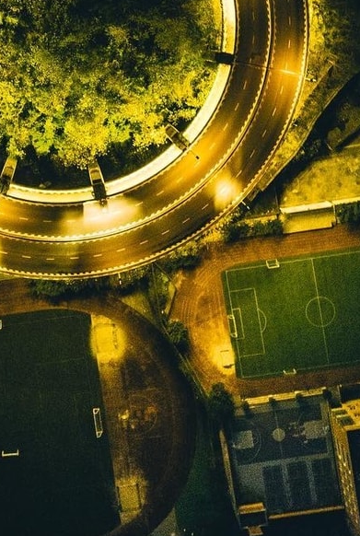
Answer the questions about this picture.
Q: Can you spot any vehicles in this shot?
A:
No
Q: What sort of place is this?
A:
sports ground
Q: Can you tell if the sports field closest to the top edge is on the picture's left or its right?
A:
right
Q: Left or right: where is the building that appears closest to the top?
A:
right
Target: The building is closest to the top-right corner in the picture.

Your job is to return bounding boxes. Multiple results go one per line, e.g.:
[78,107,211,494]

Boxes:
[279,202,335,234]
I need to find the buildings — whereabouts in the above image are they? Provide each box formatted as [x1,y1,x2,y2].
[279,202,335,234]
[223,387,357,532]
